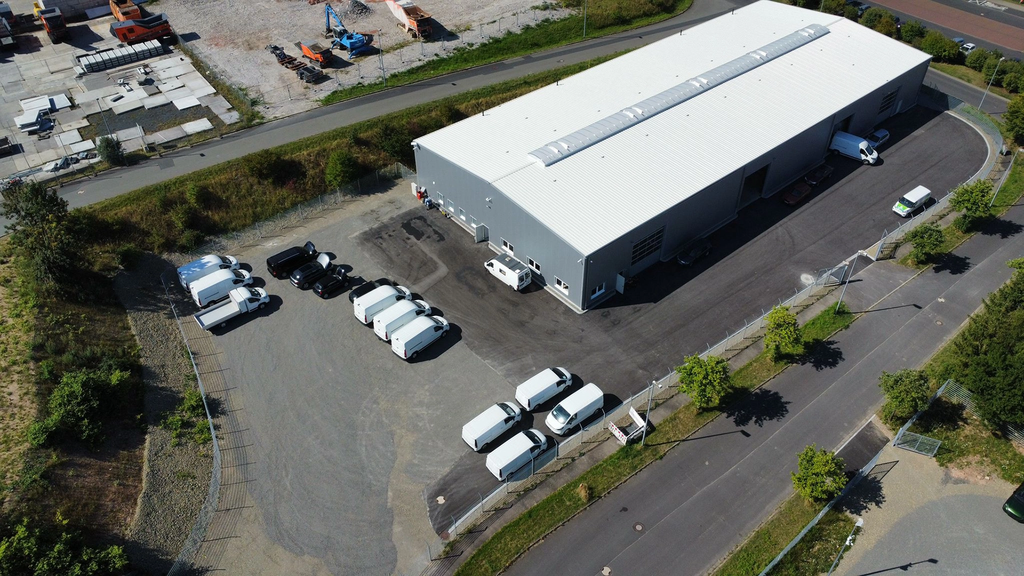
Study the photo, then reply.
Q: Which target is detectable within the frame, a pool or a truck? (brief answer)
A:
truck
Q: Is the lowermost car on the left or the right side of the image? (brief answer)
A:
right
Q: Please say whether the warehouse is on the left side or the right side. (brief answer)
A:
right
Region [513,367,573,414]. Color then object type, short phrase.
white van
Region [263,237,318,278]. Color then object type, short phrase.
black van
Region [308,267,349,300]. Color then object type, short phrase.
black car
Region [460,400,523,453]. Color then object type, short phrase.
white van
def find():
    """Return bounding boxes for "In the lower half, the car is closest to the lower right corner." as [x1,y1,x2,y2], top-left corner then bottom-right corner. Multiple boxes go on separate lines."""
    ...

[1002,483,1024,518]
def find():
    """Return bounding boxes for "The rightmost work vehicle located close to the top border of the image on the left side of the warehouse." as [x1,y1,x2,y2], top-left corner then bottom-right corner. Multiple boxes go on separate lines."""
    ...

[321,0,380,60]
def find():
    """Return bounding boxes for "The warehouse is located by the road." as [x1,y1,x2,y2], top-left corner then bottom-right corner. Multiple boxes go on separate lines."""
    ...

[412,0,935,316]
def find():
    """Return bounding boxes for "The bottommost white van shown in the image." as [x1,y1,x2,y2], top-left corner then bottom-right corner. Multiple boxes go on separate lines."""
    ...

[483,427,549,482]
